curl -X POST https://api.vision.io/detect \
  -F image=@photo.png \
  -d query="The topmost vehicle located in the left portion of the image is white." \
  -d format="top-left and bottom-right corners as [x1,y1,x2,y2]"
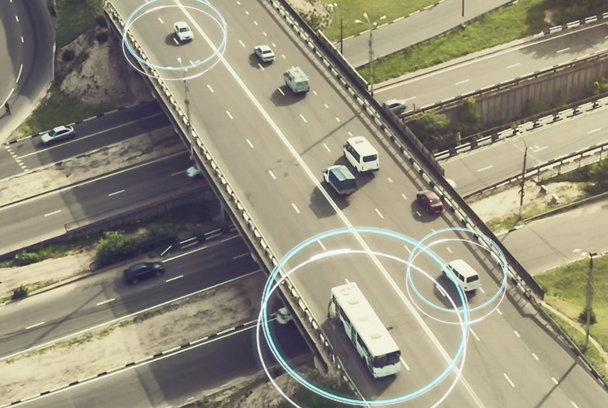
[172,24,193,42]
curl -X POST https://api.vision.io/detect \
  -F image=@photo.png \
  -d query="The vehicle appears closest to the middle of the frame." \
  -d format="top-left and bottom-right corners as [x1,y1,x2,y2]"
[323,165,359,197]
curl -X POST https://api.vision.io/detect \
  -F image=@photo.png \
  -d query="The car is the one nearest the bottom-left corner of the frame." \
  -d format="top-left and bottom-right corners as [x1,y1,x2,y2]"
[122,261,166,285]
